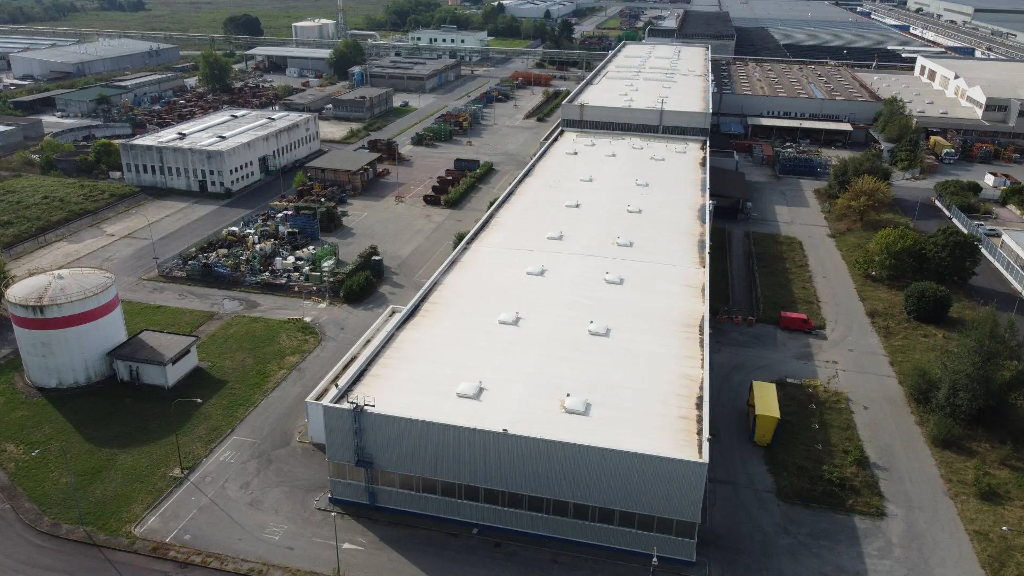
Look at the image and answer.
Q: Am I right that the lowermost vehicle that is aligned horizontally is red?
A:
Yes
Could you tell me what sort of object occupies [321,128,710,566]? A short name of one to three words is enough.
building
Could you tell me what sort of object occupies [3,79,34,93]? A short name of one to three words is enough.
shed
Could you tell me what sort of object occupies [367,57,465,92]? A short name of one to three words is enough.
building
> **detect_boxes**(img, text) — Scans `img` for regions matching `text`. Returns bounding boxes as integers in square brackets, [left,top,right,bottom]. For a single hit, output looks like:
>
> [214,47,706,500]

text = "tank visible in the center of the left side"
[0,260,130,395]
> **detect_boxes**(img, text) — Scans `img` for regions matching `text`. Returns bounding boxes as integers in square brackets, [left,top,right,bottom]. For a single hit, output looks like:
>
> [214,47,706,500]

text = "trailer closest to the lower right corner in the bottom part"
[750,381,781,440]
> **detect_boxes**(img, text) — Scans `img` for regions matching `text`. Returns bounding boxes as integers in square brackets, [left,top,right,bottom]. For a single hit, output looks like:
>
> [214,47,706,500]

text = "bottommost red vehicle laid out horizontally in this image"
[780,312,818,332]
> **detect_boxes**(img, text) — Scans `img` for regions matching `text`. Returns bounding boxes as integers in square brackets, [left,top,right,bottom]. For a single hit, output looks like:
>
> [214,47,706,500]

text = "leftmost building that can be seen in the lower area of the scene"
[109,329,202,387]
